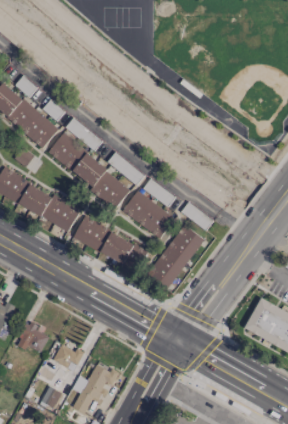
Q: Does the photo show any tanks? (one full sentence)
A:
No, no tank is visible in the view.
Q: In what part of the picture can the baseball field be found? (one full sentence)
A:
The baseball field appears toward the top right of the photo.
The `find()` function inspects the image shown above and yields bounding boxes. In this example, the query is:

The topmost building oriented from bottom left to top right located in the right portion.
[150,226,205,287]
